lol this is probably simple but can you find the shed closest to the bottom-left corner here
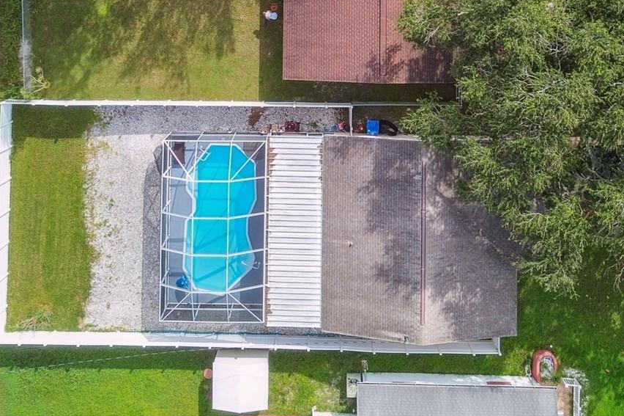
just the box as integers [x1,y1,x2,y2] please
[213,348,269,414]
